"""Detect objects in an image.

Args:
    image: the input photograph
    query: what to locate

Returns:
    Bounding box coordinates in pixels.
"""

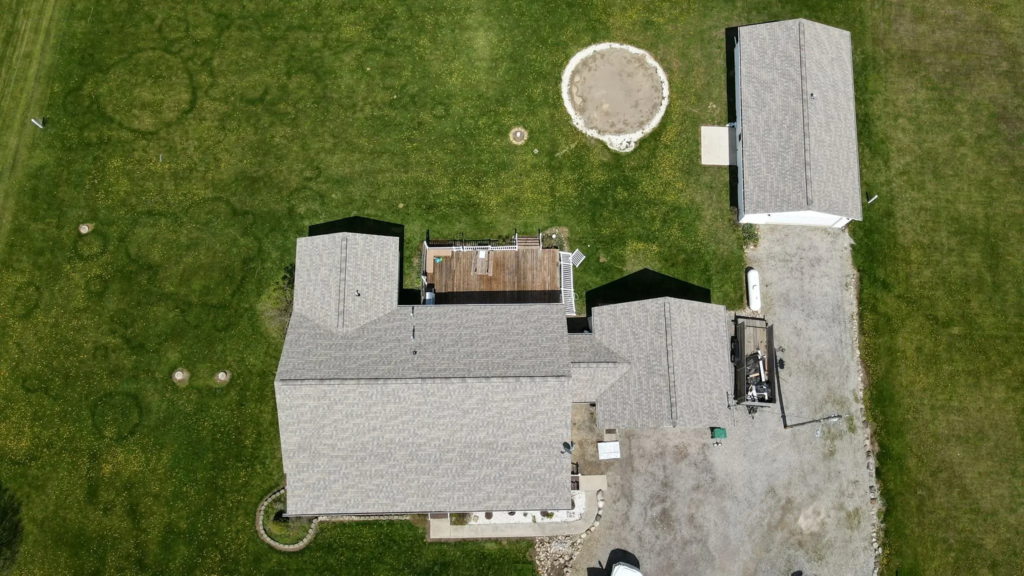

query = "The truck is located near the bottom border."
[607,555,644,576]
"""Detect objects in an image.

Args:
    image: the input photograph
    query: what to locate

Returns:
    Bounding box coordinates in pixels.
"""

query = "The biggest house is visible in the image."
[275,232,738,520]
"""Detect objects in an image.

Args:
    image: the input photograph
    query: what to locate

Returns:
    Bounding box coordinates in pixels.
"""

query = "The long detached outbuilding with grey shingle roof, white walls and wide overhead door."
[734,19,863,229]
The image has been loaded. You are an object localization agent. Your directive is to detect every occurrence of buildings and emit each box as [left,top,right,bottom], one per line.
[275,232,738,520]
[734,19,863,229]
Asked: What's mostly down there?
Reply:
grass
